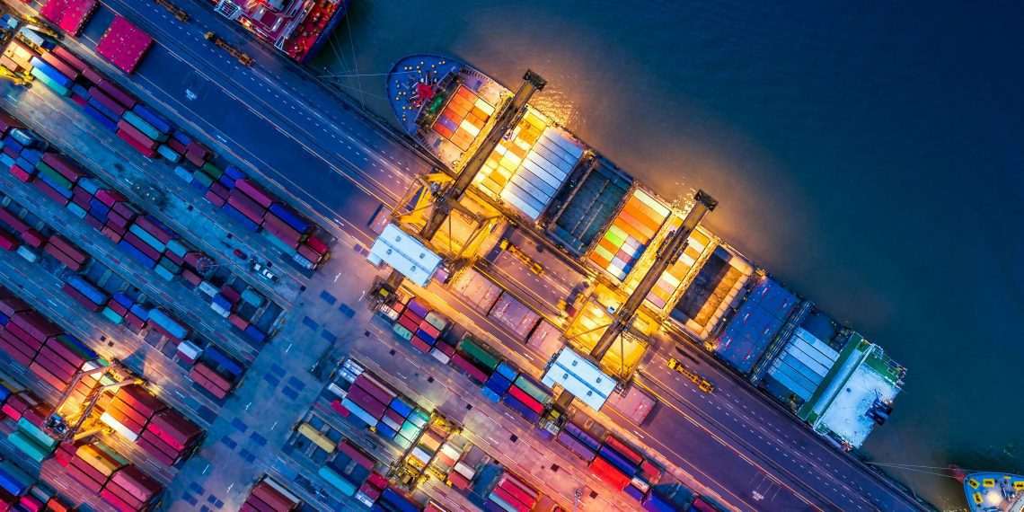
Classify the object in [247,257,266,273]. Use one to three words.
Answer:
vehicle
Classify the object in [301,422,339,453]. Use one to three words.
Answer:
shipping container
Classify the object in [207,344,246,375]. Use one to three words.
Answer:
shipping container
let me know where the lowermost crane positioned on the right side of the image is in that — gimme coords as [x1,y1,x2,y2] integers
[540,191,718,423]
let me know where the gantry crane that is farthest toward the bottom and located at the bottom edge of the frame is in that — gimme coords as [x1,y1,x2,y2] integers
[388,408,467,500]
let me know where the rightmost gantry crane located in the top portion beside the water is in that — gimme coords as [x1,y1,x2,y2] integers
[370,70,547,305]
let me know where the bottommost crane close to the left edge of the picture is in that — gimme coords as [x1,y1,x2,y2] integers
[38,355,142,446]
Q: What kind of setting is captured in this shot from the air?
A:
port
